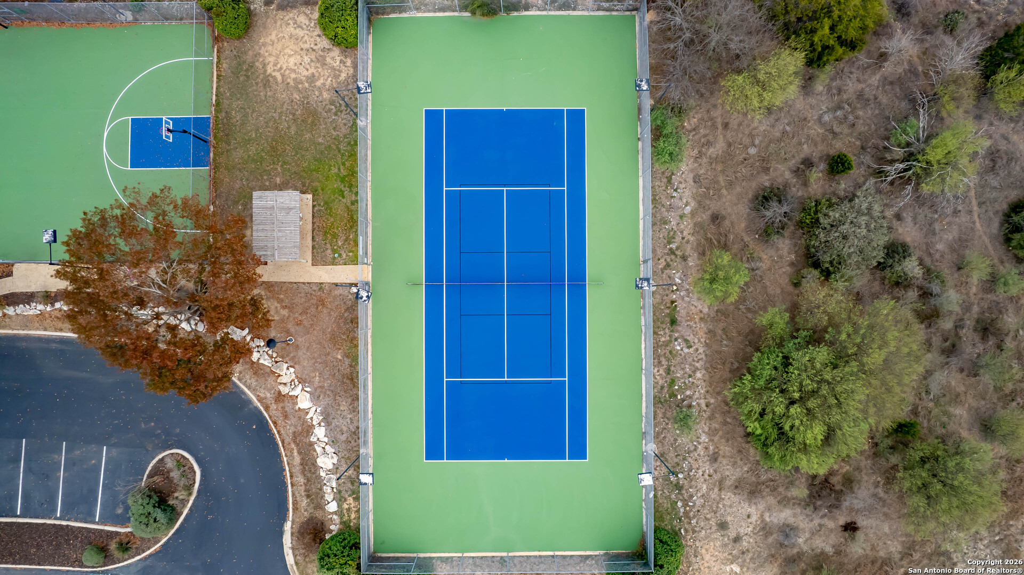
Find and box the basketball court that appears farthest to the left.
[0,19,216,259]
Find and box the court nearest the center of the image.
[367,9,646,559]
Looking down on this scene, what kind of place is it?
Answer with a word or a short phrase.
sports ground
